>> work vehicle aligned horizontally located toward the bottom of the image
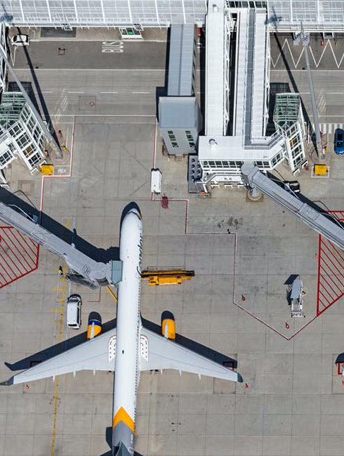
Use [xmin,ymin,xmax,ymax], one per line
[139,271,195,285]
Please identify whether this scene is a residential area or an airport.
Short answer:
airport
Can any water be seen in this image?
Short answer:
No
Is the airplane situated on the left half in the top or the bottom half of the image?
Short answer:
bottom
